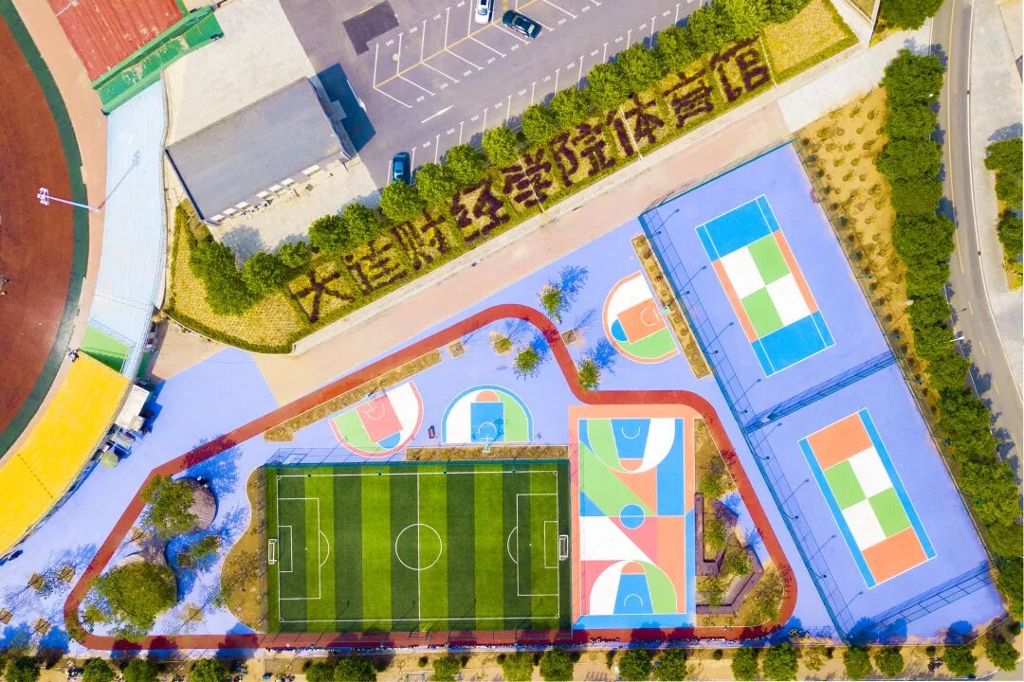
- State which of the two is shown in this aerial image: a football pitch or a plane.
football pitch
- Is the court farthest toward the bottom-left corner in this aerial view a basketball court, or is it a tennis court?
basketball court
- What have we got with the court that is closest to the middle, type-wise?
basketball court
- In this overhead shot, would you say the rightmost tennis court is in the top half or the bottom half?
bottom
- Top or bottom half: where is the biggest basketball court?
bottom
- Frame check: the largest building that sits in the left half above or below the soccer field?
above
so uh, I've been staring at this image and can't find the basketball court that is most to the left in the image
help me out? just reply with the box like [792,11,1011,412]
[329,381,422,458]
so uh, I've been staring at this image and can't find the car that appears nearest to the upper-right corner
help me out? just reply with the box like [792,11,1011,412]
[505,10,538,35]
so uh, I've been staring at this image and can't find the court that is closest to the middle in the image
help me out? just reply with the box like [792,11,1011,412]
[441,384,534,443]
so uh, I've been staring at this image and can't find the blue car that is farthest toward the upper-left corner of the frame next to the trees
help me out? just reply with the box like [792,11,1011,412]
[391,152,407,184]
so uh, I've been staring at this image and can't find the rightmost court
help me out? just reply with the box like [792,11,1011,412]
[797,408,937,590]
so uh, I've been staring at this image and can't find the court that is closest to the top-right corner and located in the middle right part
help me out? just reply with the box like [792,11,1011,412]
[696,194,835,377]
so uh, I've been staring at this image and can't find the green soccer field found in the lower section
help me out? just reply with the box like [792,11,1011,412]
[266,463,572,633]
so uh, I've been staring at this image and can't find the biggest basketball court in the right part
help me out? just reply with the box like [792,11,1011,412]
[570,405,696,627]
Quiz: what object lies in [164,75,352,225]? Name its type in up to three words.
building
